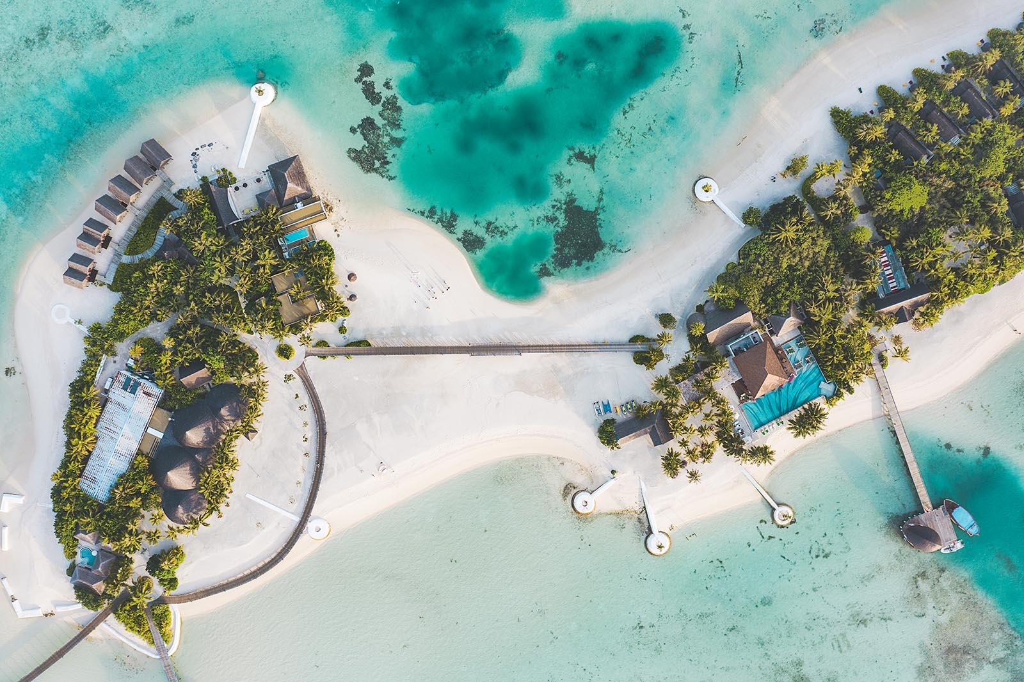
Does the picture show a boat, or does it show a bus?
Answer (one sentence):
Of the two, only a boat appears.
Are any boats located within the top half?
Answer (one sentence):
No, there is no boat within the top half.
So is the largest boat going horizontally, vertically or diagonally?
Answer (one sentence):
What the image shows is the largest boat lying diagonally.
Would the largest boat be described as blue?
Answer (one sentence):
Yes, the largest boat is blue.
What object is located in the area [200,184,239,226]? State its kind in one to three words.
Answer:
house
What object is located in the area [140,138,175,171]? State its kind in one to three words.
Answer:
shed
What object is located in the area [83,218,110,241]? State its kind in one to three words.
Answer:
shed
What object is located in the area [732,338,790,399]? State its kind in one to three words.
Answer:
building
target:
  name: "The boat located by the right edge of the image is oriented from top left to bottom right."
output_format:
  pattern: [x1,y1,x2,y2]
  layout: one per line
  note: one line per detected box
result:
[944,500,981,538]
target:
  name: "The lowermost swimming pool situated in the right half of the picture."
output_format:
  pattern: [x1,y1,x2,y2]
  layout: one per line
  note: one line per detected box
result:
[739,335,827,430]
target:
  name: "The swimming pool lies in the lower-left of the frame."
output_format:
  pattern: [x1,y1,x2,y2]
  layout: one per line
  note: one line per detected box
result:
[79,545,97,567]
